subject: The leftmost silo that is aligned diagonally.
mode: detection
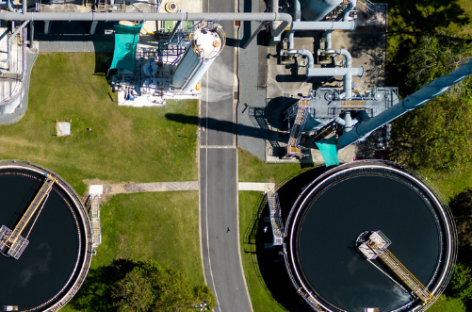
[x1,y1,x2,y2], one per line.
[167,21,225,94]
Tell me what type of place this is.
industrial area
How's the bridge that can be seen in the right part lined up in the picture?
on a diagonal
